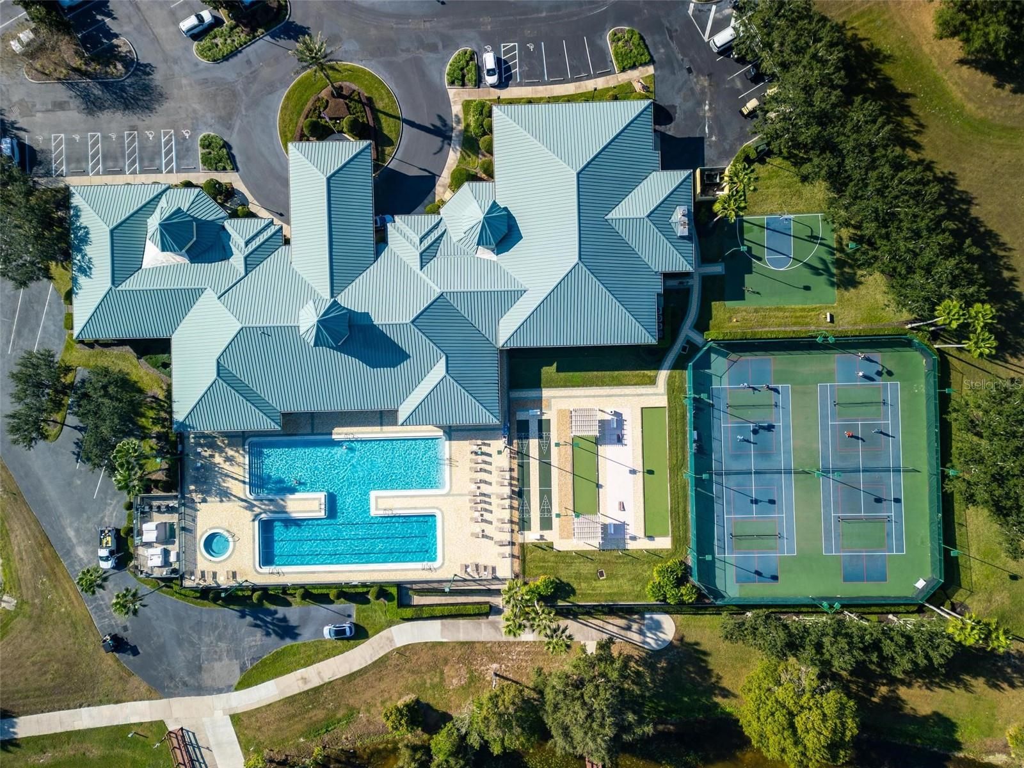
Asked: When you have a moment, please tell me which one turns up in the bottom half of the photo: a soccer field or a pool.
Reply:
pool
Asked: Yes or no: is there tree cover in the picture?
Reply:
Yes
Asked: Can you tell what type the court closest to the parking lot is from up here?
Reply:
basketball court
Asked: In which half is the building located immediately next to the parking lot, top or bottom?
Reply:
top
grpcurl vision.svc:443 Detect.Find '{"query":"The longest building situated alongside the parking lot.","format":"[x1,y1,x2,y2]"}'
[69,99,695,432]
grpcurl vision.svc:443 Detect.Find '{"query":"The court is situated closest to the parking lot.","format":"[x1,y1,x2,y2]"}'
[724,214,836,307]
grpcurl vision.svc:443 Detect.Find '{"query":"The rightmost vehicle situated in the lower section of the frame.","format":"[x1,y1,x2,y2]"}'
[323,622,355,640]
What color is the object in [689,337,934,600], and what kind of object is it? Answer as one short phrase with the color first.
green tennis court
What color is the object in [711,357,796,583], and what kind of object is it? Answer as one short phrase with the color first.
blue tennis court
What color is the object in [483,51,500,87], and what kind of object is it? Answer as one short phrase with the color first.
white car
